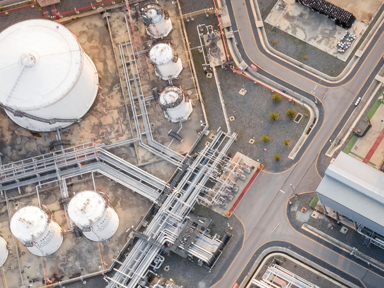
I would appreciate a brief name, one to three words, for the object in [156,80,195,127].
storage tank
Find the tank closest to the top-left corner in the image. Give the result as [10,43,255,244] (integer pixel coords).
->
[0,17,98,135]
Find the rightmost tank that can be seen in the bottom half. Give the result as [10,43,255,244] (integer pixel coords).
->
[66,190,120,241]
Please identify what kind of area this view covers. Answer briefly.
industrial area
